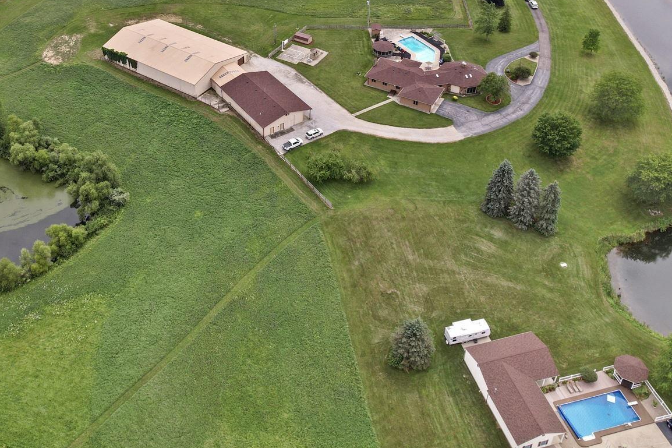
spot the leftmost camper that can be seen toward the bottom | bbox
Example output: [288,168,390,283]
[446,316,491,343]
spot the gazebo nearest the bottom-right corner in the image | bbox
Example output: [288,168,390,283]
[613,356,650,392]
